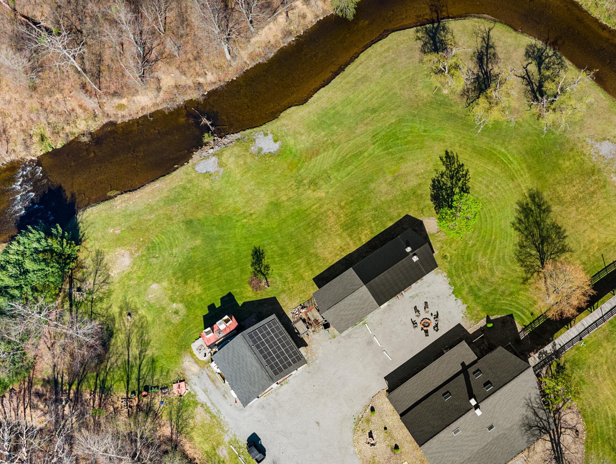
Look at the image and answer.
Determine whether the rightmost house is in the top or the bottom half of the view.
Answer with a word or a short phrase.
bottom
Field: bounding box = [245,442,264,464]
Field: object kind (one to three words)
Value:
car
